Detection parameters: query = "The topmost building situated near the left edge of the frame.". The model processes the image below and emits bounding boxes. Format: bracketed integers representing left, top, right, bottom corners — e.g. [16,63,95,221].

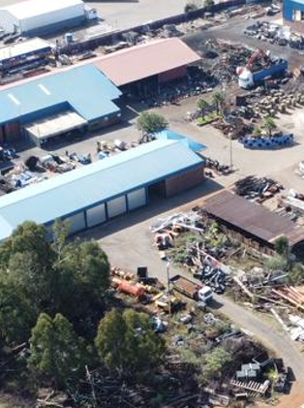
[0,0,85,40]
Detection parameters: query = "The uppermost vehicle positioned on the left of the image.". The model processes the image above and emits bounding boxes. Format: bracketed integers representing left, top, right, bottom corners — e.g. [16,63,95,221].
[84,6,103,19]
